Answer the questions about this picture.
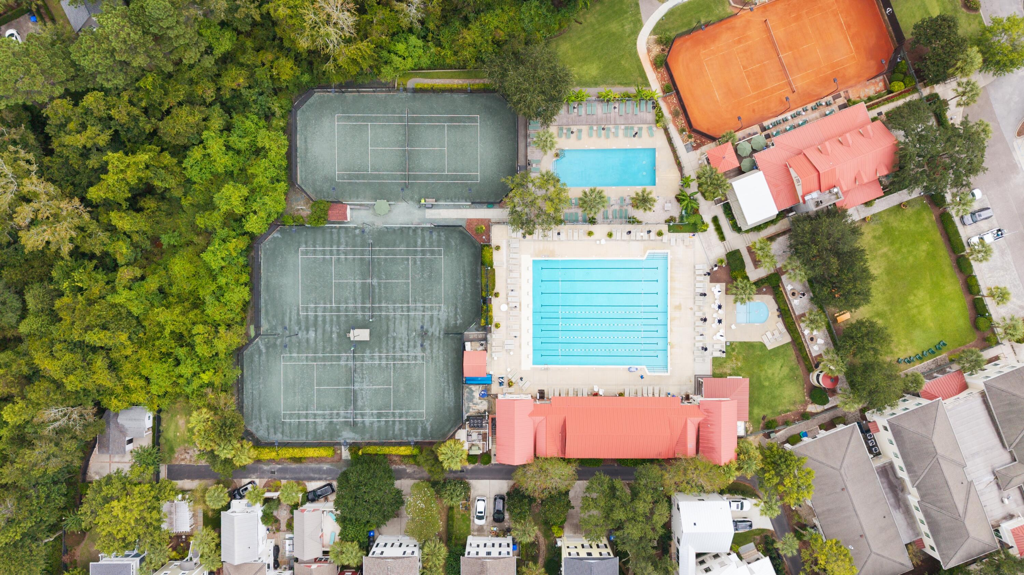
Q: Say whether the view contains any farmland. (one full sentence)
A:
No, the scene doesn't show any farmland.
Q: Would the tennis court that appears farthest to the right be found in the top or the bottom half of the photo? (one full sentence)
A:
You can find the tennis court that appears farthest to the right in the top half.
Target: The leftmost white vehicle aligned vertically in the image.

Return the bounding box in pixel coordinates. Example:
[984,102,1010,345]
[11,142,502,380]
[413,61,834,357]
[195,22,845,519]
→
[473,496,487,525]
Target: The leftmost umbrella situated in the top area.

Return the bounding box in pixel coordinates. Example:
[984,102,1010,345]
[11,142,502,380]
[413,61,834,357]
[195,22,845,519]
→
[374,199,390,216]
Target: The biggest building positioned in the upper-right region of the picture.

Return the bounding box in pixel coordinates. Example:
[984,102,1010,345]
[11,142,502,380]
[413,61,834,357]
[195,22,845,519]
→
[753,101,901,213]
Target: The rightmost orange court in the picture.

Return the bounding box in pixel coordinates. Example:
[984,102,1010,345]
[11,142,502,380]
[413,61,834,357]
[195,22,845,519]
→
[670,0,894,135]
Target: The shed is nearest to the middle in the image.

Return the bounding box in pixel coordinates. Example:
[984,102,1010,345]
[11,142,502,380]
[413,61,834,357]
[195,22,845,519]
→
[464,351,486,377]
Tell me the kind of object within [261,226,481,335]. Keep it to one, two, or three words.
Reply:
tennis court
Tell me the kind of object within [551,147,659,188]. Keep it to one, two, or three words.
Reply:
swimming pool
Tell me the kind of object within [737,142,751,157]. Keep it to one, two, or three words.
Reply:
umbrella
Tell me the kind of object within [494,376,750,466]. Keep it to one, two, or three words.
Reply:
building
